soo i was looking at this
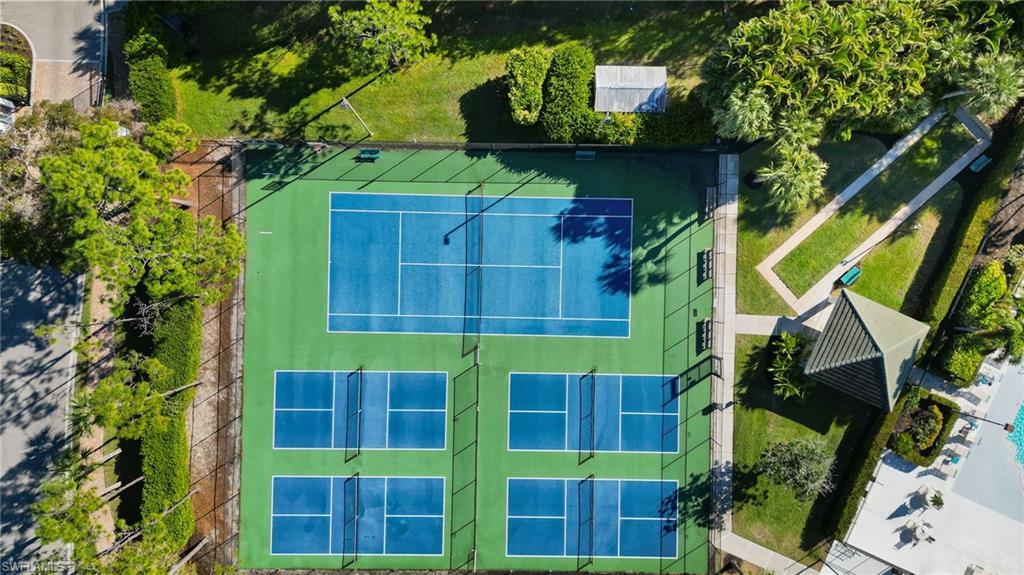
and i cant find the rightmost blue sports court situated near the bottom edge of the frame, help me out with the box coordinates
[506,478,679,559]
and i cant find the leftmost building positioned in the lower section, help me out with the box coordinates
[797,288,932,412]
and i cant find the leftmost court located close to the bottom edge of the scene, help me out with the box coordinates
[270,475,445,557]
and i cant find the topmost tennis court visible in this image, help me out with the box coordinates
[326,192,633,337]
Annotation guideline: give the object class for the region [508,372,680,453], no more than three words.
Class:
sports court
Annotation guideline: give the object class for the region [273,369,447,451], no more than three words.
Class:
sports court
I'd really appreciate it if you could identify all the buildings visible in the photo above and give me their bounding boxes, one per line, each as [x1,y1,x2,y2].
[596,64,669,115]
[797,288,932,412]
